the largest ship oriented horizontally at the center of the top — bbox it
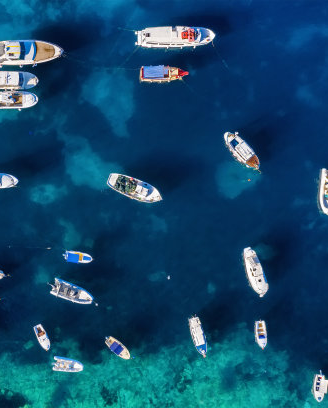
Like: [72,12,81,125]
[117,24,228,68]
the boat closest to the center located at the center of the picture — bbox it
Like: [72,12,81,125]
[104,174,165,202]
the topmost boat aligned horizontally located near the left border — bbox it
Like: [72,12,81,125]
[0,41,71,66]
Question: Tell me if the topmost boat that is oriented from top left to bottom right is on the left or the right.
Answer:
right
